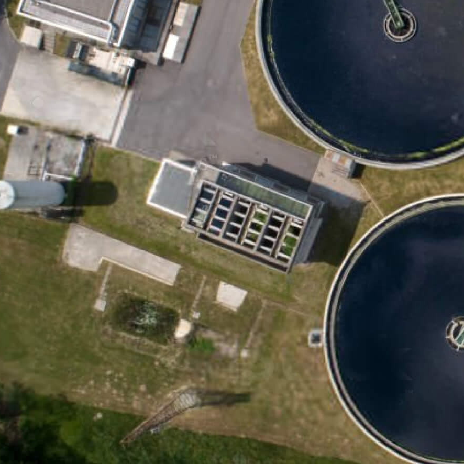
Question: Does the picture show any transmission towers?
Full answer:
Yes, there's a transmission tower down there.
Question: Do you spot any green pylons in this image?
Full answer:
No, the frame has no green pylon in it.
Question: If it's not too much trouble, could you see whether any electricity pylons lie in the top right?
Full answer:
No, in the top right there is no electricity pylon.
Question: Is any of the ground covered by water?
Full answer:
Yes, the picture does contain water.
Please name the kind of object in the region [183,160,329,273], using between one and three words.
building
